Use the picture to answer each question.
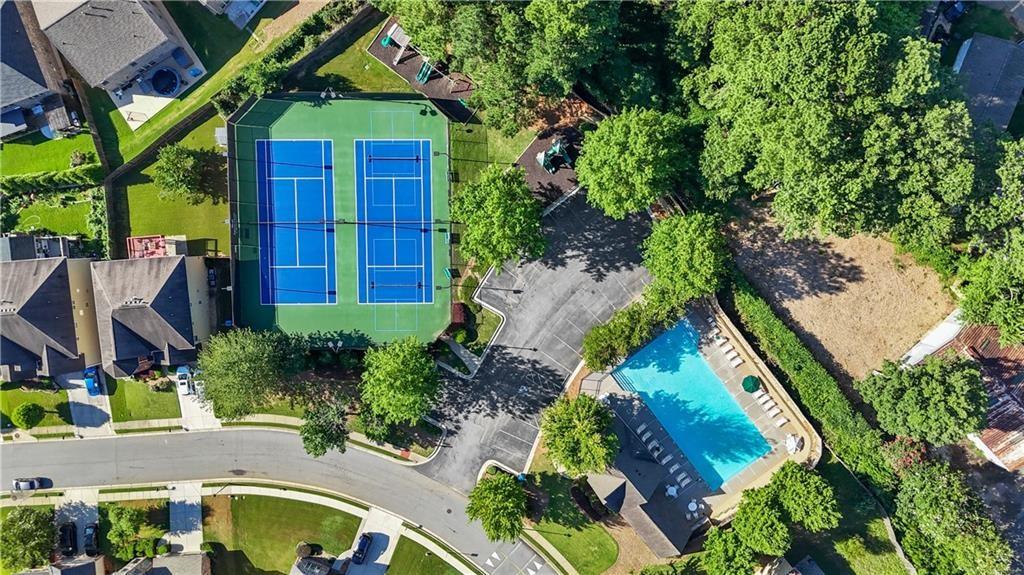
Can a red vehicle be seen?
No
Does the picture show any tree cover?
Yes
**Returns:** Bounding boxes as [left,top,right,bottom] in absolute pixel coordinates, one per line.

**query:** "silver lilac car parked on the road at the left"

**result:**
[6,478,39,494]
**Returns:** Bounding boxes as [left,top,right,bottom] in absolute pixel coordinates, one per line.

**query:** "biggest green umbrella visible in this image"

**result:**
[742,374,760,393]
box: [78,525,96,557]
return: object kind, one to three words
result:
car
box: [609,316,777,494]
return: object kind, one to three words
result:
swimming pool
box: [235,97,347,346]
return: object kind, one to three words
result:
tennis court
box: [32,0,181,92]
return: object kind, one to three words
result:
house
